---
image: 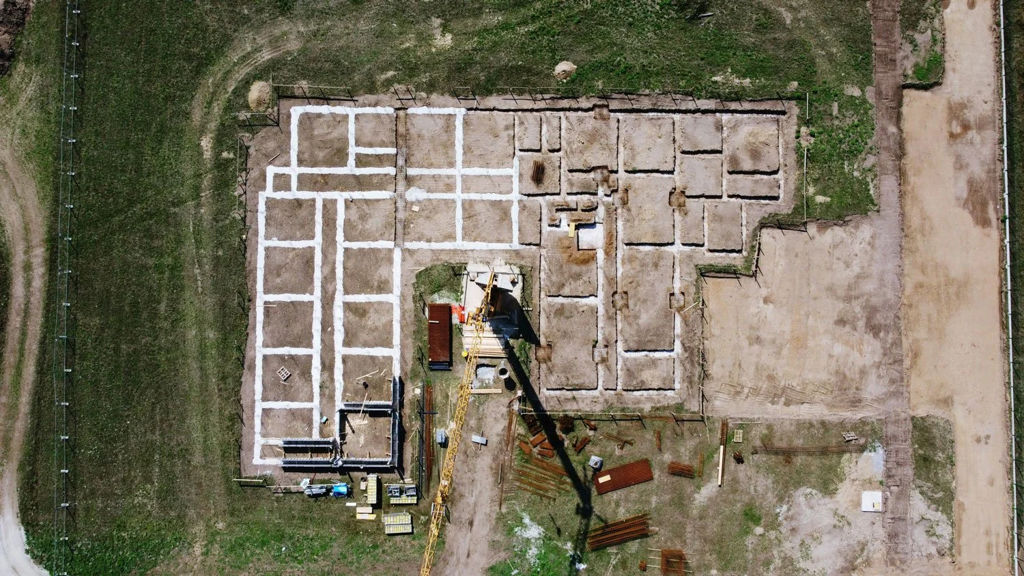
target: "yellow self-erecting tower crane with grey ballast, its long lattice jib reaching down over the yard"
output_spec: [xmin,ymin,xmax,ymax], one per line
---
[417,268,514,576]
